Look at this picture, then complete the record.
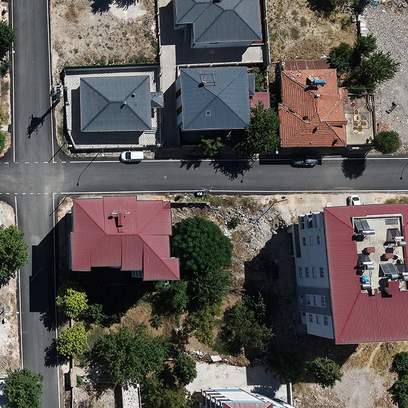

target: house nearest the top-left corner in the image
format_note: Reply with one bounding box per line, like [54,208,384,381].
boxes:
[80,75,164,132]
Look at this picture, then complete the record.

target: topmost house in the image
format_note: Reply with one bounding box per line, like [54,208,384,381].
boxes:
[173,0,262,48]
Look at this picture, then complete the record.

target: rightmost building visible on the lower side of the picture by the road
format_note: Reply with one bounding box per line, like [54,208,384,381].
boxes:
[295,203,408,344]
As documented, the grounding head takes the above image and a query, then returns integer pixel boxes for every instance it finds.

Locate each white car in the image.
[347,192,361,206]
[121,150,144,162]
